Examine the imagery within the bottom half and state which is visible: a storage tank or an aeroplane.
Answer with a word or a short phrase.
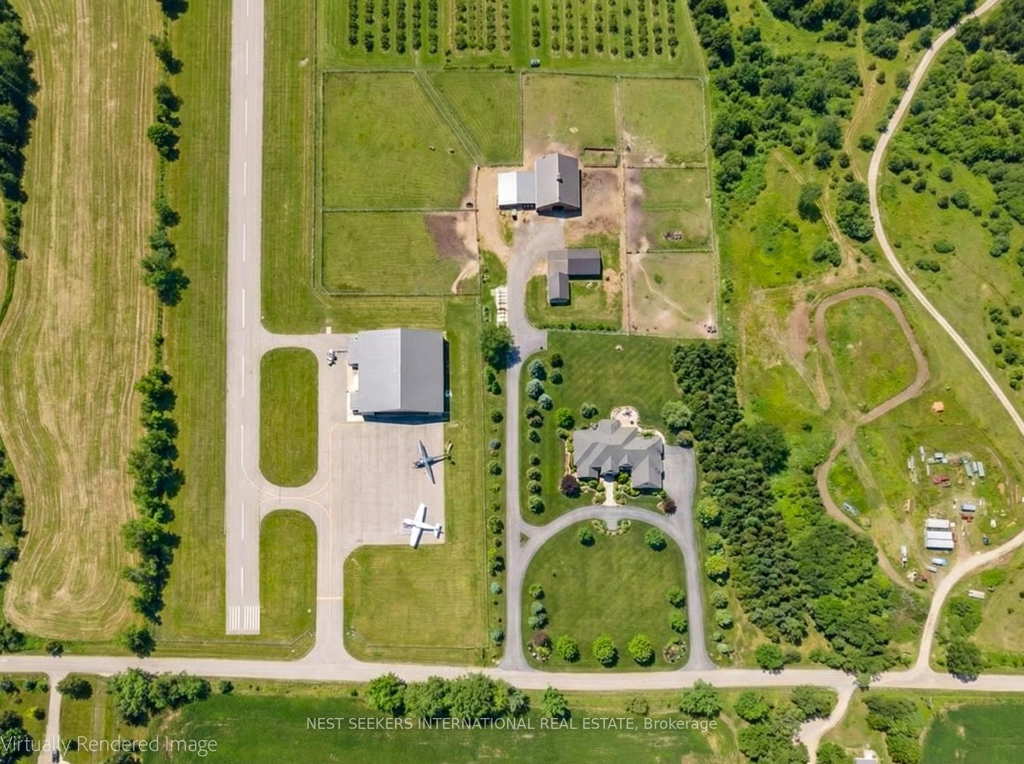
aeroplane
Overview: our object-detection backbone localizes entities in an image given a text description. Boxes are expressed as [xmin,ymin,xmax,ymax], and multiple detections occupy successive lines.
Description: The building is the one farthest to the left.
[348,330,446,413]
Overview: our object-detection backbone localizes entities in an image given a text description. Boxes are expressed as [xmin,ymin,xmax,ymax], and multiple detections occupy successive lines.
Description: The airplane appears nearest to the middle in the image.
[415,440,455,485]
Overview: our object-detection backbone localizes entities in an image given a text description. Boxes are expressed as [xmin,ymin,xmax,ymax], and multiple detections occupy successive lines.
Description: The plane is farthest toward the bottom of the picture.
[403,504,441,547]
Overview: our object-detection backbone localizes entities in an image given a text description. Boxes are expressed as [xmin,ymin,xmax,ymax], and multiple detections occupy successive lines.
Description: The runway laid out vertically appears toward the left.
[226,0,264,634]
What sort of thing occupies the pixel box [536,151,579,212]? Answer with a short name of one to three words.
barn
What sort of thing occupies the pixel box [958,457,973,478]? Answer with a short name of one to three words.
vehicle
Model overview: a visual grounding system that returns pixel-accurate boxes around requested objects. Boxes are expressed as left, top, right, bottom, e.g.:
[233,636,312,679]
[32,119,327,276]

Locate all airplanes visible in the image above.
[403,504,441,547]
[415,440,455,485]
